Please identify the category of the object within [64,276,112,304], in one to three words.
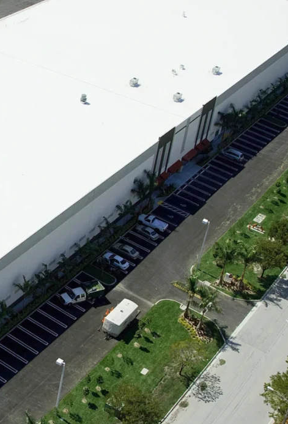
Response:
truck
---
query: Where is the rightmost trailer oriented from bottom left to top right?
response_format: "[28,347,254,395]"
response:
[105,299,140,338]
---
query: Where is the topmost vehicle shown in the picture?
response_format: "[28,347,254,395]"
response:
[221,148,246,161]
